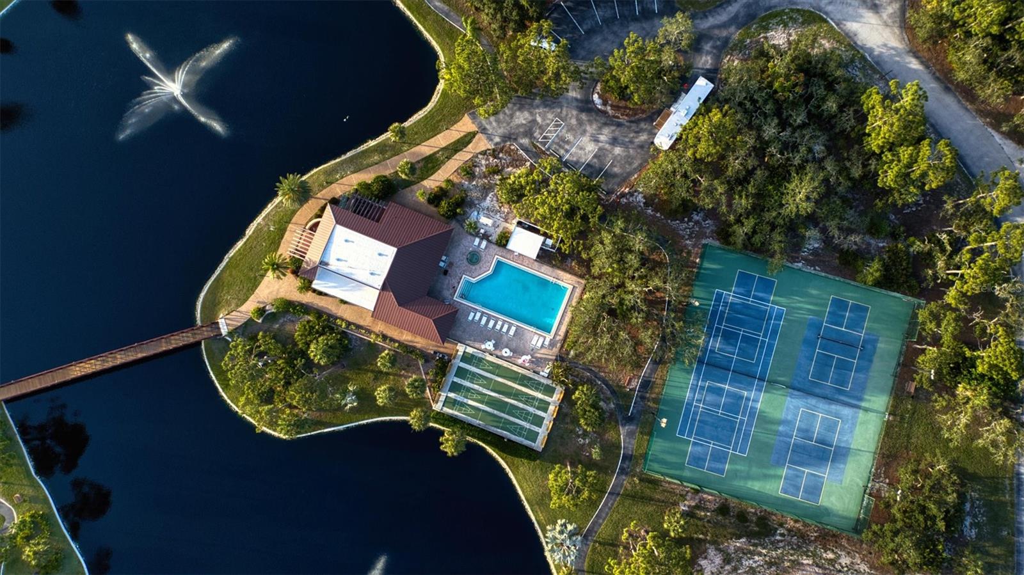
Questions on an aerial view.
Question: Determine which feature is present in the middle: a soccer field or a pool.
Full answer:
There is a pool in the middle.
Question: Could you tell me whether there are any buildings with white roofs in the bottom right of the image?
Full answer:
No, in the bottom right of the image there is no building with a white roof.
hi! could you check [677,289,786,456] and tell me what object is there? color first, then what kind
blue tennis court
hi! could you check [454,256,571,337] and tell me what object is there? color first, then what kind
blue swimming pool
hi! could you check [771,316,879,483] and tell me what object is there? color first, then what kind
blue tennis court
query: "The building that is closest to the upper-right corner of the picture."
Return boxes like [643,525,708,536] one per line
[506,226,544,259]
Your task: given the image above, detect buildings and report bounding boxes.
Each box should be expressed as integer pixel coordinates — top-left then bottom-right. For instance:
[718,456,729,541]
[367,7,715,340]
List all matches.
[506,226,544,259]
[299,202,458,345]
